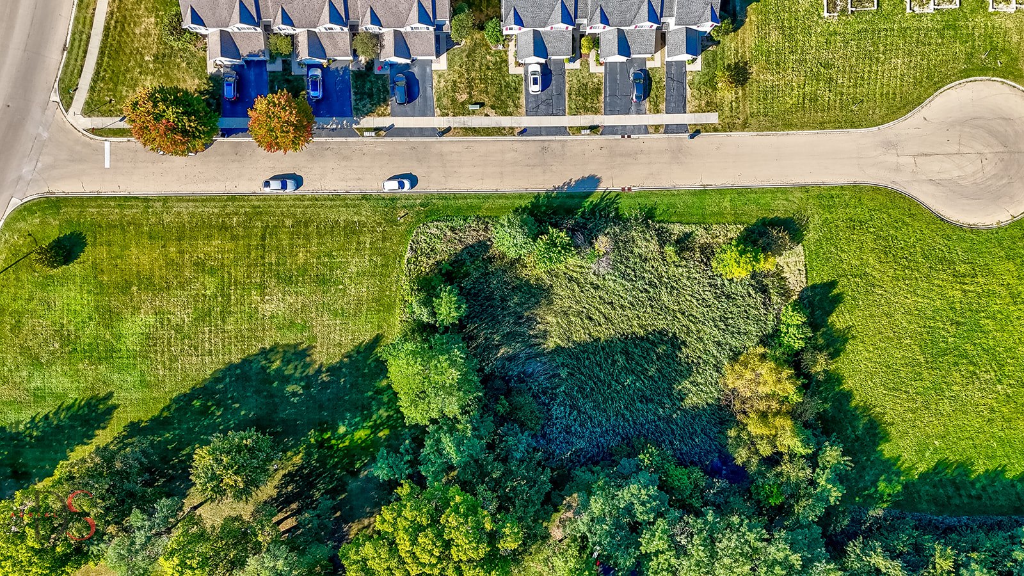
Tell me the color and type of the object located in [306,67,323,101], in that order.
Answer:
blue car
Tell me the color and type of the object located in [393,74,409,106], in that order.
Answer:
blue car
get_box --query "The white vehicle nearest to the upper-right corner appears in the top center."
[527,63,543,96]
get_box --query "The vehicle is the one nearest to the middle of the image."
[383,177,411,192]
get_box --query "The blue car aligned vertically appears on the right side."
[630,70,646,104]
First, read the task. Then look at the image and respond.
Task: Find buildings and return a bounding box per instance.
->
[178,0,454,65]
[502,0,722,65]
